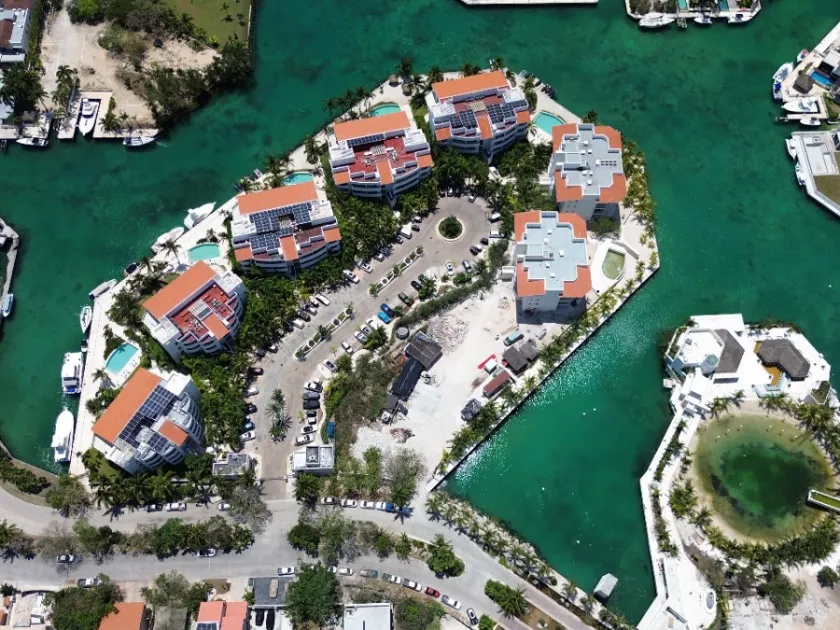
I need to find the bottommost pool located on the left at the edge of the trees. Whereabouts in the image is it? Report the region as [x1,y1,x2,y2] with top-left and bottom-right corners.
[104,343,139,373]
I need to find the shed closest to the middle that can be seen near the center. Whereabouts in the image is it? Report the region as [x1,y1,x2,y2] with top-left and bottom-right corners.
[405,332,442,372]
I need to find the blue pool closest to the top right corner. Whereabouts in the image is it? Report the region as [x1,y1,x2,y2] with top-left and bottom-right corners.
[810,71,833,89]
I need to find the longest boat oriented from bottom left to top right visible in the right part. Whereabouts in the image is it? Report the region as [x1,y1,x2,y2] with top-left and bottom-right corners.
[769,63,793,83]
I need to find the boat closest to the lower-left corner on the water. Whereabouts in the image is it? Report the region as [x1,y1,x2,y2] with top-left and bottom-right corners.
[49,408,72,463]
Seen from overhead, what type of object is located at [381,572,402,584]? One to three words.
vehicle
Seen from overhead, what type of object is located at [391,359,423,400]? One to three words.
shed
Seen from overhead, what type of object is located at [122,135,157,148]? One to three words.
boat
